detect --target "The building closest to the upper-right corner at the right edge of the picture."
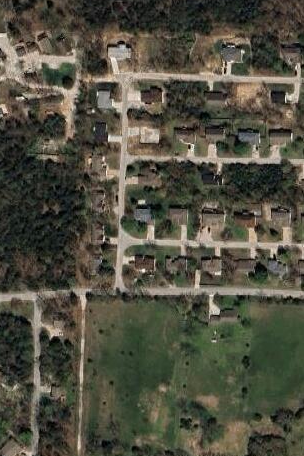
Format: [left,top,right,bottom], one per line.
[282,45,302,65]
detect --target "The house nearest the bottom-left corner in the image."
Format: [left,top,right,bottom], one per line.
[0,436,30,456]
